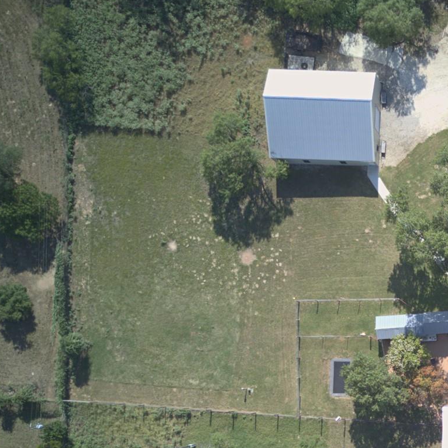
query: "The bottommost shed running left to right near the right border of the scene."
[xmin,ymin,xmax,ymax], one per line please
[375,311,448,339]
